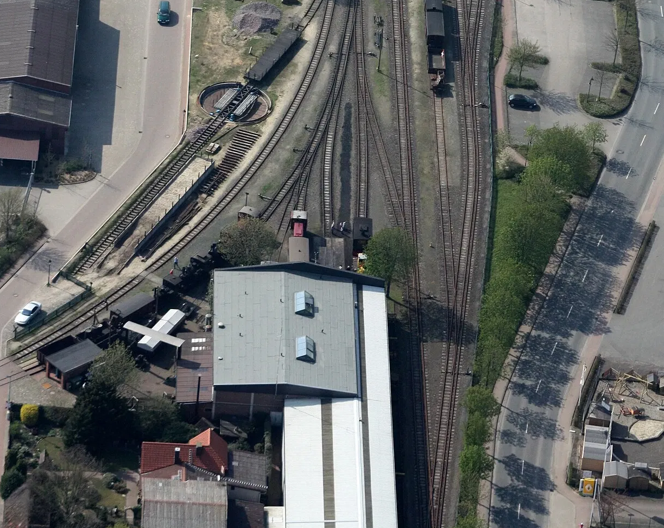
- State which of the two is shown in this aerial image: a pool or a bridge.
bridge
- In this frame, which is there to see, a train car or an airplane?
train car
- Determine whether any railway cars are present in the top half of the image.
Yes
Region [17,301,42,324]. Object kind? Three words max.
car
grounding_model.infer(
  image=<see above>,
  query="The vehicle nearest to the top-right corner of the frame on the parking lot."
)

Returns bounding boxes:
[510,92,538,109]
